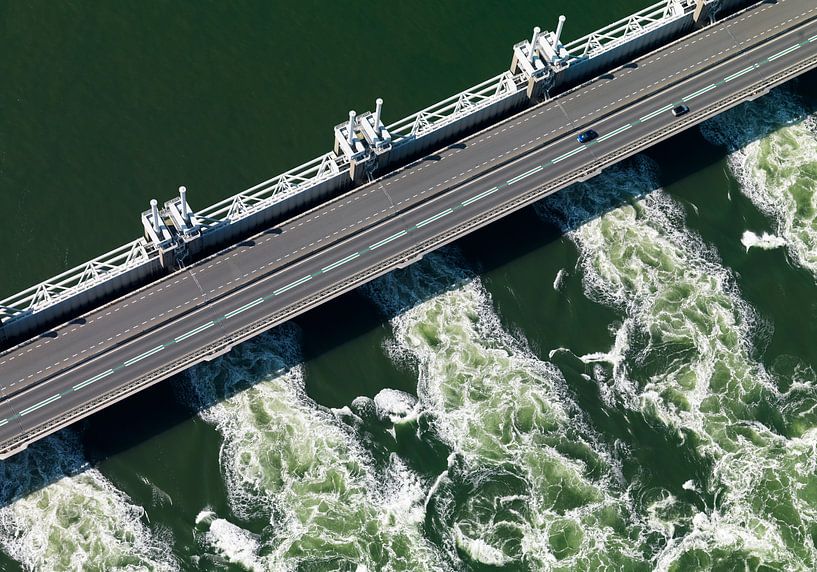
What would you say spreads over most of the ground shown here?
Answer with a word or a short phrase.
water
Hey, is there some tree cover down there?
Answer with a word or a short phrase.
No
